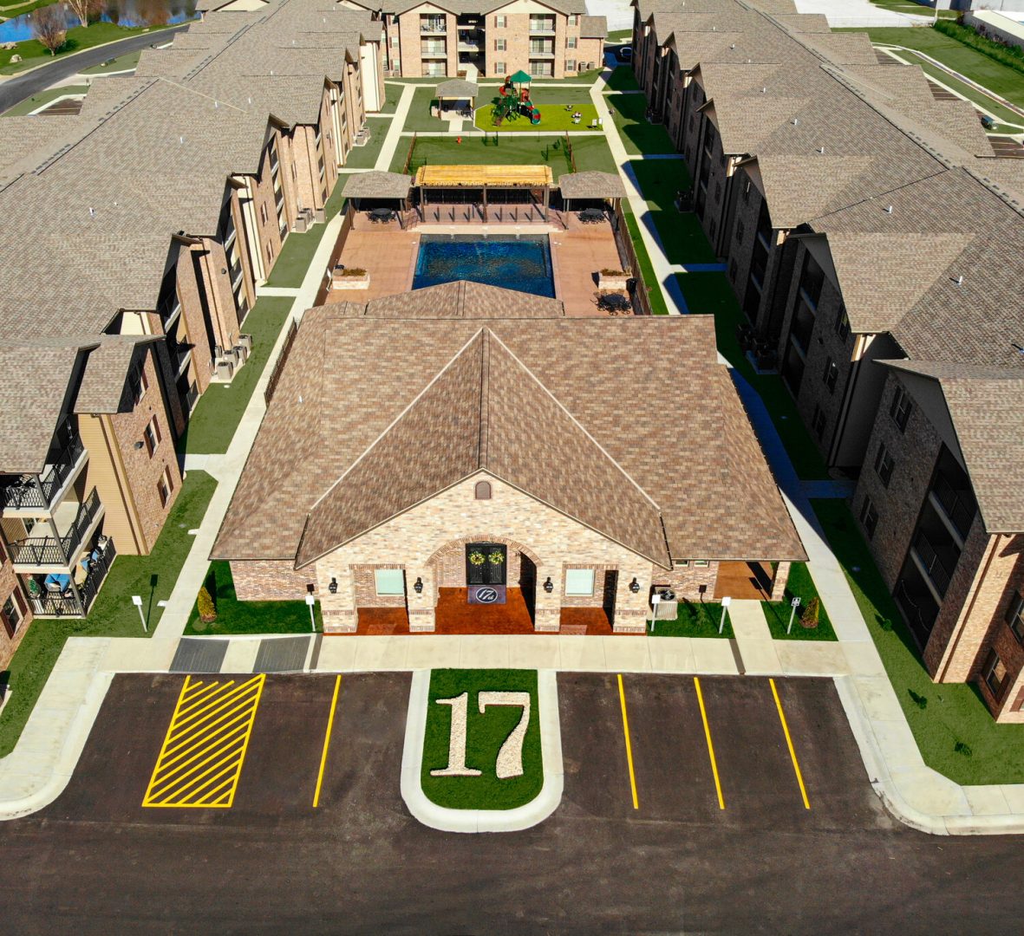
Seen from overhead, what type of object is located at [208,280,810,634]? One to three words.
building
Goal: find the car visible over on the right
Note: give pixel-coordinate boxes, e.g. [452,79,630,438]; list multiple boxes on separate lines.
[616,39,631,52]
